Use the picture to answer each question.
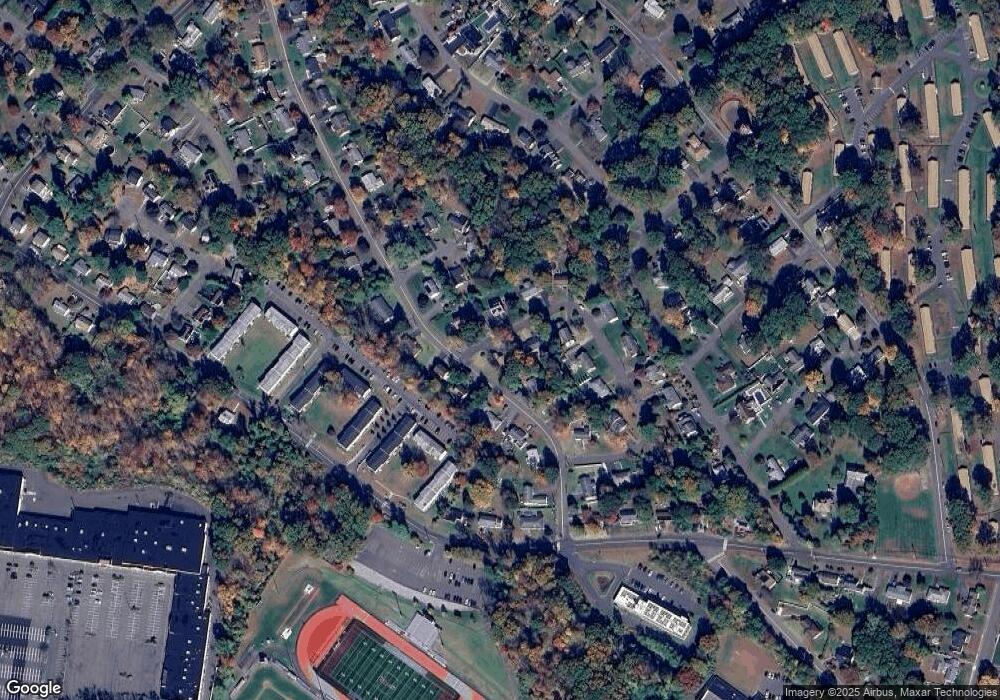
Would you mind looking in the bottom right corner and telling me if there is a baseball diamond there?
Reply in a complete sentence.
Yes, a baseball diamond shows up in the bottom right corner.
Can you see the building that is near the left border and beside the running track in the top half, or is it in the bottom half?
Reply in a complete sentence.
The building that is near the left border and beside the running track is in the bottom half of the image.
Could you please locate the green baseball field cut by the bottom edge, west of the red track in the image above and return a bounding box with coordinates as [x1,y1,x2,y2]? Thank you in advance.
[240,663,319,700]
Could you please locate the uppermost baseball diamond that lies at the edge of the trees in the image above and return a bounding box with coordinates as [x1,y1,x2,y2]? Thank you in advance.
[876,471,939,558]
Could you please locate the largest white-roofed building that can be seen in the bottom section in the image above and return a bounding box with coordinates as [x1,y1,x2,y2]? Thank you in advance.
[615,587,694,642]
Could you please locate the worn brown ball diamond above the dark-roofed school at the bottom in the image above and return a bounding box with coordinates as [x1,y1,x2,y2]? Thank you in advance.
[714,634,783,692]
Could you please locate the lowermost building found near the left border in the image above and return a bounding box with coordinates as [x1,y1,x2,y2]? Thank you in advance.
[0,469,211,700]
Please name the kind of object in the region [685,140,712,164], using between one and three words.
house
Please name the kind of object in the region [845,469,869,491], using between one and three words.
house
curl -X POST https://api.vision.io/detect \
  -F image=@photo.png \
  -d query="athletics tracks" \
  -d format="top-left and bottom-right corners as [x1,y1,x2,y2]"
[296,592,480,700]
